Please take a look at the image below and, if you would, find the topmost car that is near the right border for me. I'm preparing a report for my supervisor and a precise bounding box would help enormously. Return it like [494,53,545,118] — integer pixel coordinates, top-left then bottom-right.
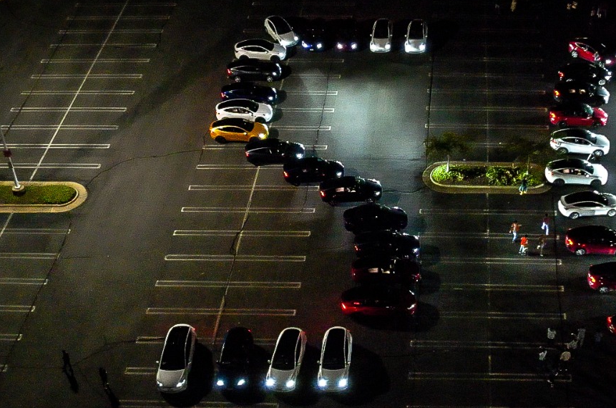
[565,37,616,67]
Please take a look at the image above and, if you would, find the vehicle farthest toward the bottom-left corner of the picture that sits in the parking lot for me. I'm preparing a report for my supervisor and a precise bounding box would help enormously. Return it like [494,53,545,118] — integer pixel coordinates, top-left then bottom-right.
[157,331,199,396]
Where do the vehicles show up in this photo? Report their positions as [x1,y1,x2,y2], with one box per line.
[551,80,612,107]
[157,331,199,396]
[543,159,609,189]
[351,231,423,259]
[563,227,616,257]
[216,326,258,391]
[266,326,307,392]
[233,39,290,64]
[404,19,429,54]
[565,37,616,67]
[207,117,271,144]
[548,102,609,130]
[219,83,279,105]
[335,19,360,51]
[243,139,309,167]
[281,158,347,186]
[556,191,616,220]
[300,18,325,50]
[341,205,410,234]
[318,175,386,205]
[548,129,610,156]
[316,326,357,391]
[585,263,616,294]
[214,98,276,124]
[262,17,298,48]
[368,19,394,53]
[556,64,614,87]
[226,61,284,85]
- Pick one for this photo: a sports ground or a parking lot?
parking lot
